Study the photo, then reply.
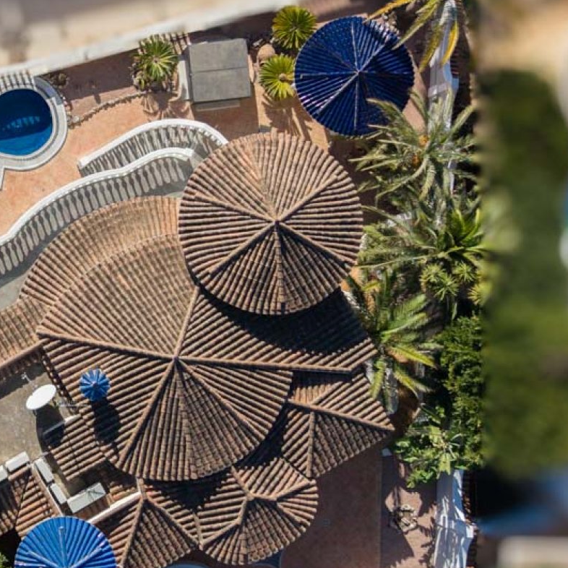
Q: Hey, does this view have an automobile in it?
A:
No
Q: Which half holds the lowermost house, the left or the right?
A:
left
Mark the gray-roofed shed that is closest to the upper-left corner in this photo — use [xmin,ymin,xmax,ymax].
[177,38,252,114]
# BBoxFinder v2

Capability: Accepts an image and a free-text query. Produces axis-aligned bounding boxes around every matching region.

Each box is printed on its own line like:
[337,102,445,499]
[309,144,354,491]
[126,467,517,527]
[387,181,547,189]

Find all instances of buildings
[0,130,397,568]
[177,38,252,114]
